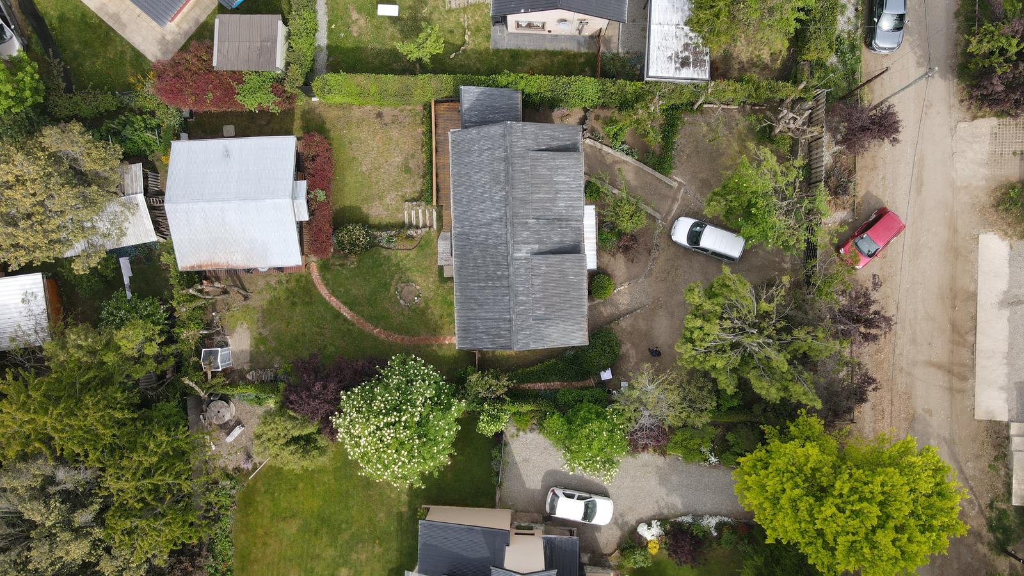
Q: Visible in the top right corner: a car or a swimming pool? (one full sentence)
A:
There is a car in the top right corner.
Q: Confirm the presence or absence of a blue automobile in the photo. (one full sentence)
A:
No, the scene contains no blue automobile.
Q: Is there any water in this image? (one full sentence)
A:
No, there's no water in this view.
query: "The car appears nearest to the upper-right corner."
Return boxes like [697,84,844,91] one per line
[863,0,905,52]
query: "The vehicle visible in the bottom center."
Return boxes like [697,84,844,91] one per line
[545,485,613,526]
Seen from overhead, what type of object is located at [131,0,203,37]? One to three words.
shed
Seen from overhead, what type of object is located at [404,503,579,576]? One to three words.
house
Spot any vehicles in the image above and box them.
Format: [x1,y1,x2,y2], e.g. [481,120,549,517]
[668,217,747,263]
[837,207,909,269]
[0,0,31,62]
[545,485,613,526]
[863,0,905,52]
